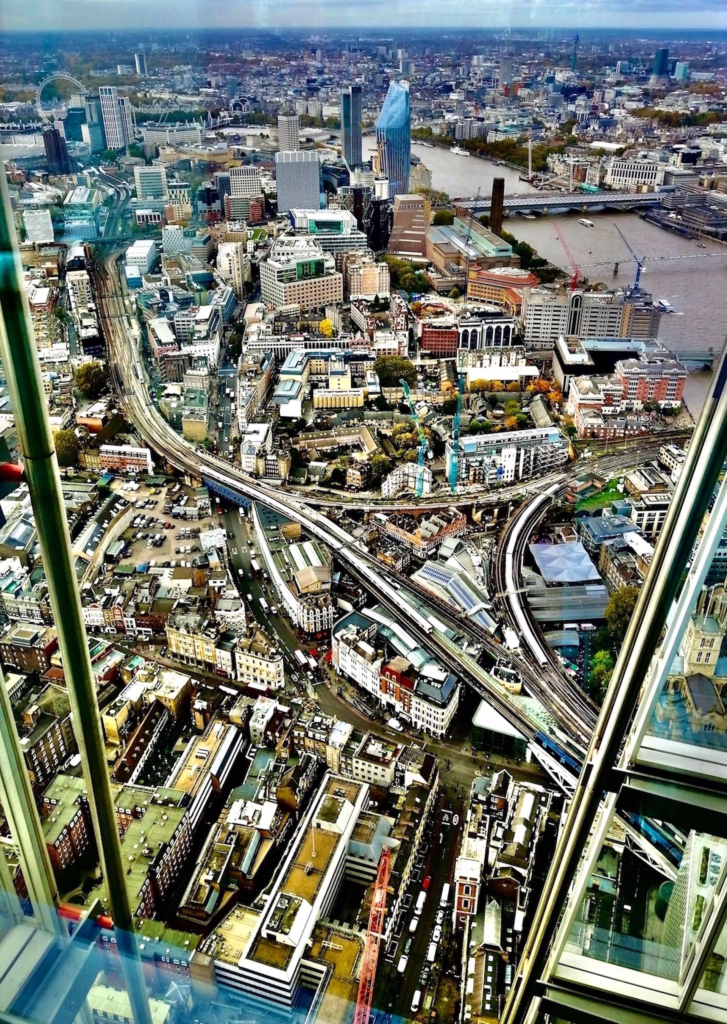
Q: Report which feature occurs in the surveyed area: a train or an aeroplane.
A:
train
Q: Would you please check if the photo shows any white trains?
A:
Yes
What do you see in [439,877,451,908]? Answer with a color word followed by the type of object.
white vehicle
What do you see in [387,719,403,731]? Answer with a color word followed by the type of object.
white vehicle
